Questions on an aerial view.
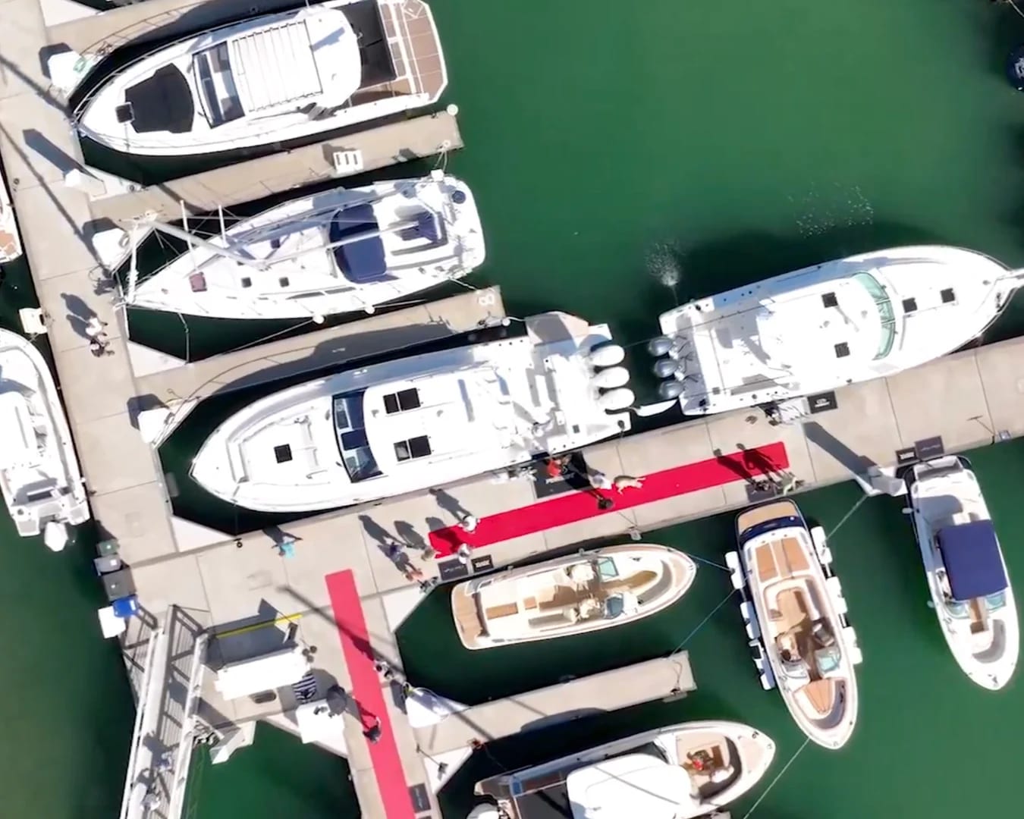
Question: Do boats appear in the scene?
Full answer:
Yes, you can see a boat in this photo.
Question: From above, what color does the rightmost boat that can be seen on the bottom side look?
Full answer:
From above, the rightmost boat that can be seen on the bottom side appears white.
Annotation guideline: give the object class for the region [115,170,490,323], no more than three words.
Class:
boat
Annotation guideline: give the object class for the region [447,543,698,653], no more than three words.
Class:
boat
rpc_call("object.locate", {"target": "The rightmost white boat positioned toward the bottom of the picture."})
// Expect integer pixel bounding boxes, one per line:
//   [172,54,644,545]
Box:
[901,455,1019,691]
